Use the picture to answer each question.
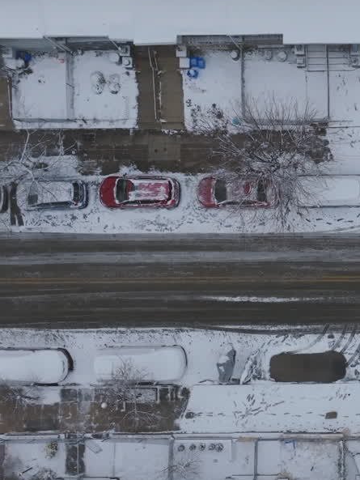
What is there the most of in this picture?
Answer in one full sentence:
What you mostly see from above here is paved ground.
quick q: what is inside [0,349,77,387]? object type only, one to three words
vehicle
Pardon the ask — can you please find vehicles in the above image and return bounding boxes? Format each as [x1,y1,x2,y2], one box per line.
[0,349,77,387]
[291,173,360,211]
[198,175,276,212]
[19,176,91,213]
[101,174,183,212]
[0,181,13,214]
[92,347,191,385]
